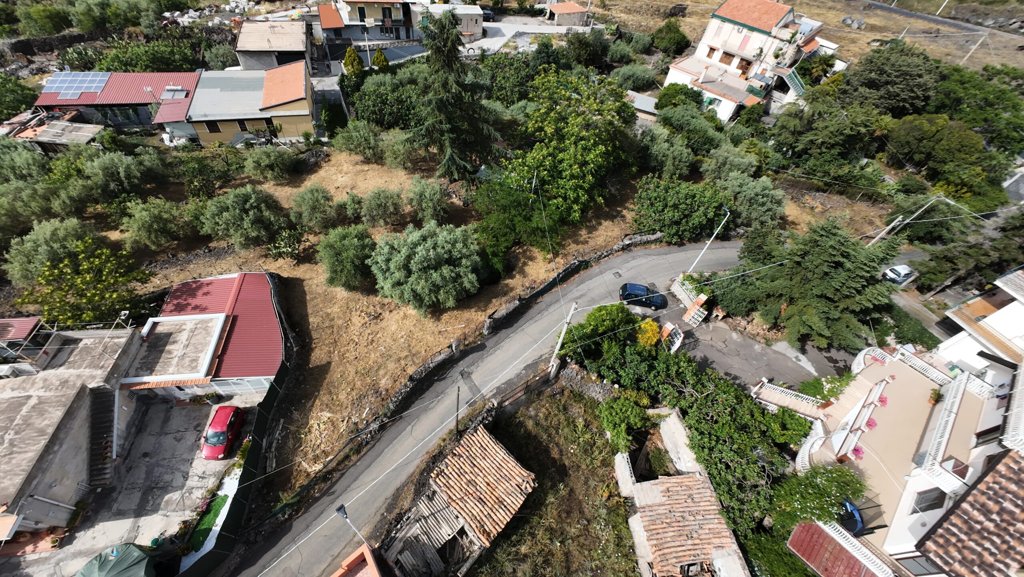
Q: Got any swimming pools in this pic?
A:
No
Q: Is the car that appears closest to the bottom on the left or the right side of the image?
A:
left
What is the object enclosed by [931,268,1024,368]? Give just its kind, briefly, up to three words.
house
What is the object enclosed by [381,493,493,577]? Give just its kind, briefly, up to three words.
shed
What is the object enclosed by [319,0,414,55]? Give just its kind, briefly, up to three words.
house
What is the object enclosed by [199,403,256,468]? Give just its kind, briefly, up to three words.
car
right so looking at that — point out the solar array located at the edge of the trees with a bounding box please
[42,72,112,100]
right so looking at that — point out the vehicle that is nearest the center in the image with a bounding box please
[617,286,666,317]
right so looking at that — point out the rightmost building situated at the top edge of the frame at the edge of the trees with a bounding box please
[663,0,839,119]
